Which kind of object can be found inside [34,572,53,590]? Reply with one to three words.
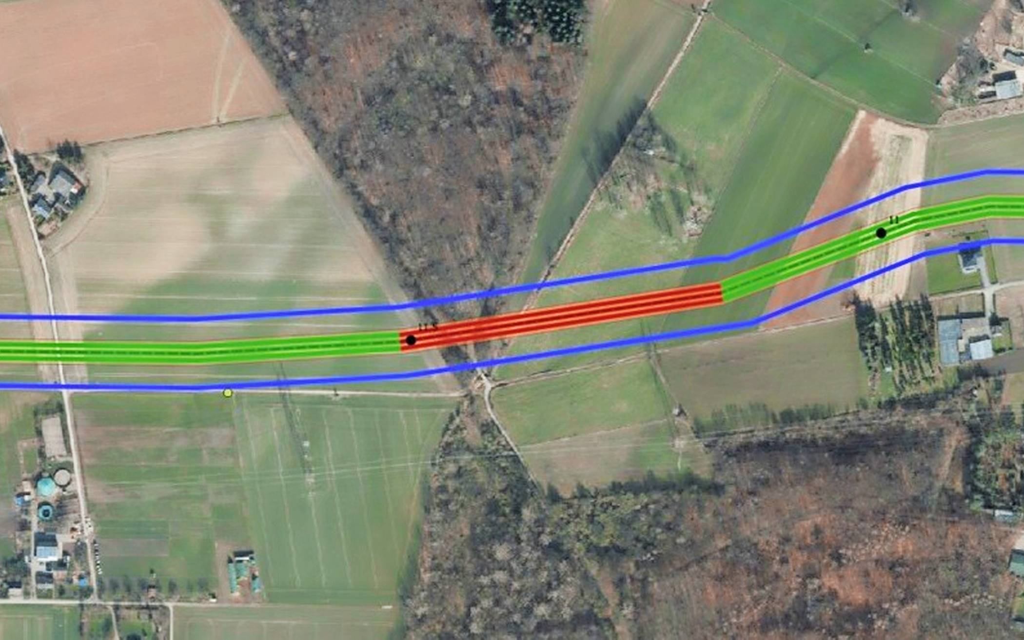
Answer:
house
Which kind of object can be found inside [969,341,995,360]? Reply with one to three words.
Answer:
shed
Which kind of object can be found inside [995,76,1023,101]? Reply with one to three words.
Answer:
barn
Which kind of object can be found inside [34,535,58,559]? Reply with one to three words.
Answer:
barn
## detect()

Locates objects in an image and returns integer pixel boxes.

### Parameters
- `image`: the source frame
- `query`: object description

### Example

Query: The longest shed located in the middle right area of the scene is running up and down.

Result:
[939,319,962,365]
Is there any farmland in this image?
Yes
